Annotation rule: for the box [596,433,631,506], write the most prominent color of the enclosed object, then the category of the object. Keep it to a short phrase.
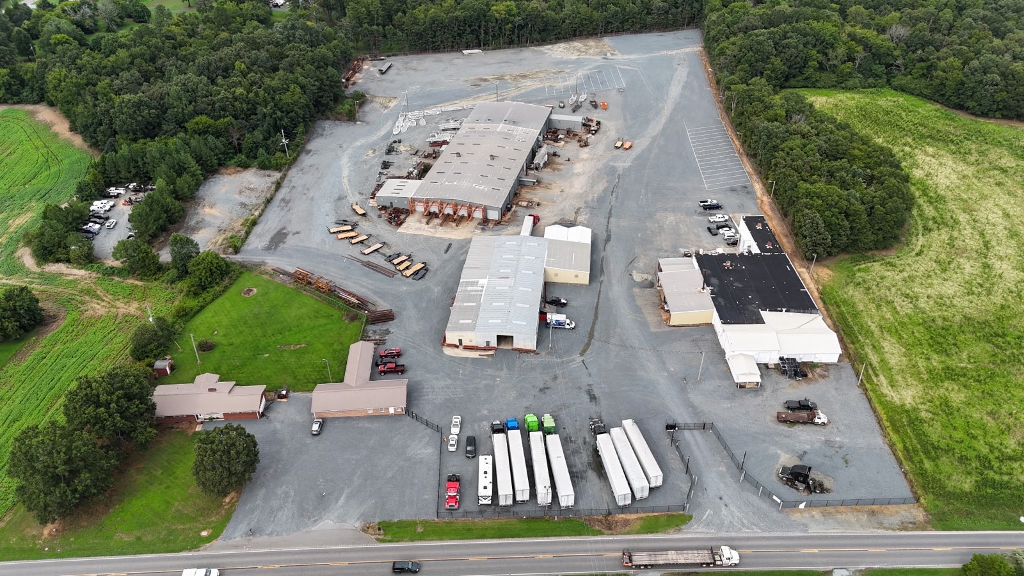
white trailer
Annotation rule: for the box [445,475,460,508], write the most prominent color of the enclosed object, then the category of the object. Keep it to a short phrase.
red vehicle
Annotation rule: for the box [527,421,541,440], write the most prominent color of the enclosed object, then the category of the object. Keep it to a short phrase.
green vehicle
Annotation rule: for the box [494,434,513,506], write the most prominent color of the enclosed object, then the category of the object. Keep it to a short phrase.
white trailer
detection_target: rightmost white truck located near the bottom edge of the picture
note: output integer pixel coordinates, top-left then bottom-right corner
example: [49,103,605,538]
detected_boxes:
[700,547,740,568]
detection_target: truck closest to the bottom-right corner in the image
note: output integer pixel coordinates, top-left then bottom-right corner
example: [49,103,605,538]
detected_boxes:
[781,468,825,496]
